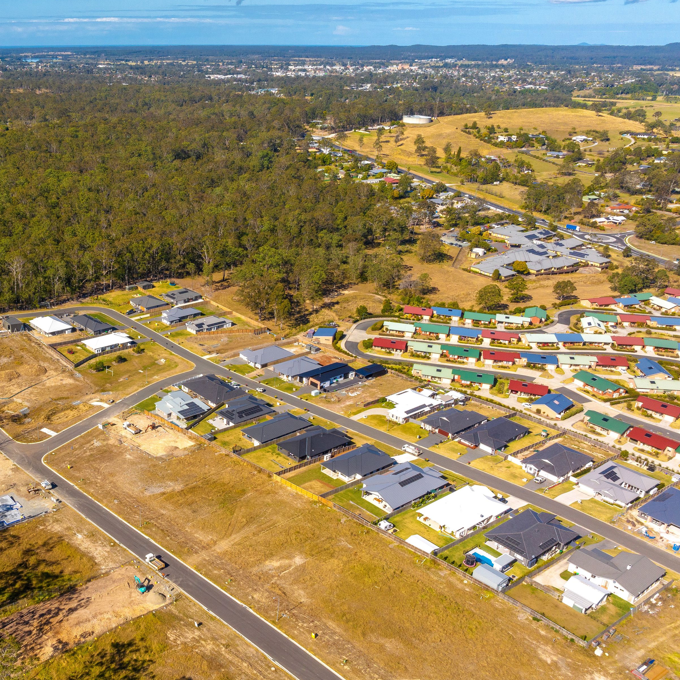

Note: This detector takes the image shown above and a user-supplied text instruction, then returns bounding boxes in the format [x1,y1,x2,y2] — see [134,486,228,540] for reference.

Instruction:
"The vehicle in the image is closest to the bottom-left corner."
[132,576,147,596]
